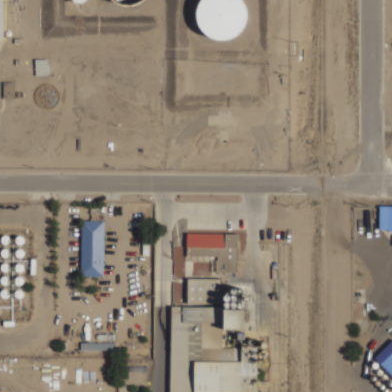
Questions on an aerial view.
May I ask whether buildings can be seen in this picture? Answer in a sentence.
Yes, there's a building down there.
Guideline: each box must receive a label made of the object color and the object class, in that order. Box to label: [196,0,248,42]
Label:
white storage tank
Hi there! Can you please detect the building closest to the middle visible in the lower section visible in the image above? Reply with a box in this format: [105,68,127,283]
[186,234,237,274]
